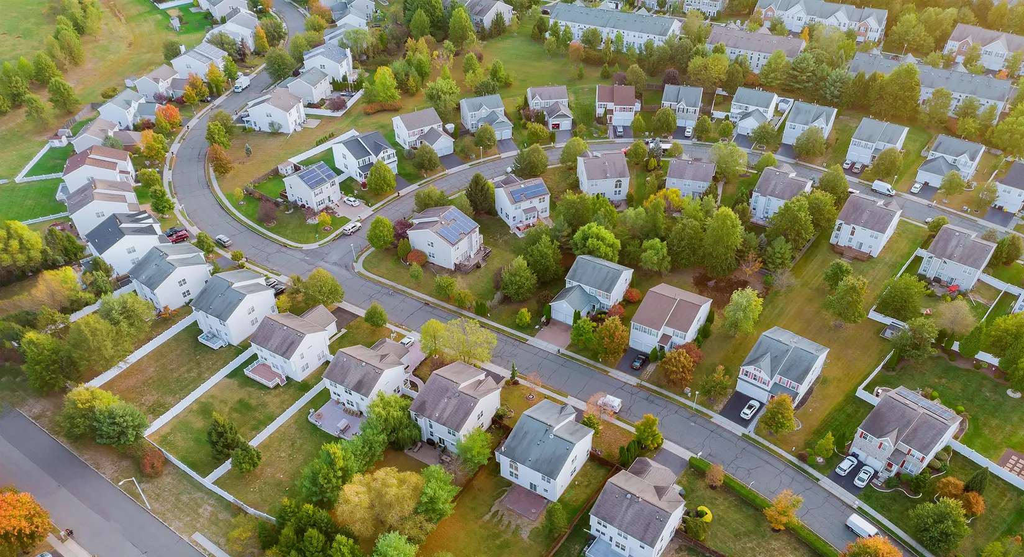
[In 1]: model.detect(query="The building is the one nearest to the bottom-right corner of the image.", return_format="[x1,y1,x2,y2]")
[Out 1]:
[854,381,962,479]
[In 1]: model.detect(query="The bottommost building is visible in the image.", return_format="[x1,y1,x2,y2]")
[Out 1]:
[572,455,682,557]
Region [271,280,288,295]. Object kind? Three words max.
car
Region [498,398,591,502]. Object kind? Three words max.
house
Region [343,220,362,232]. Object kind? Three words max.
vehicle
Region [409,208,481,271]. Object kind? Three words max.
house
